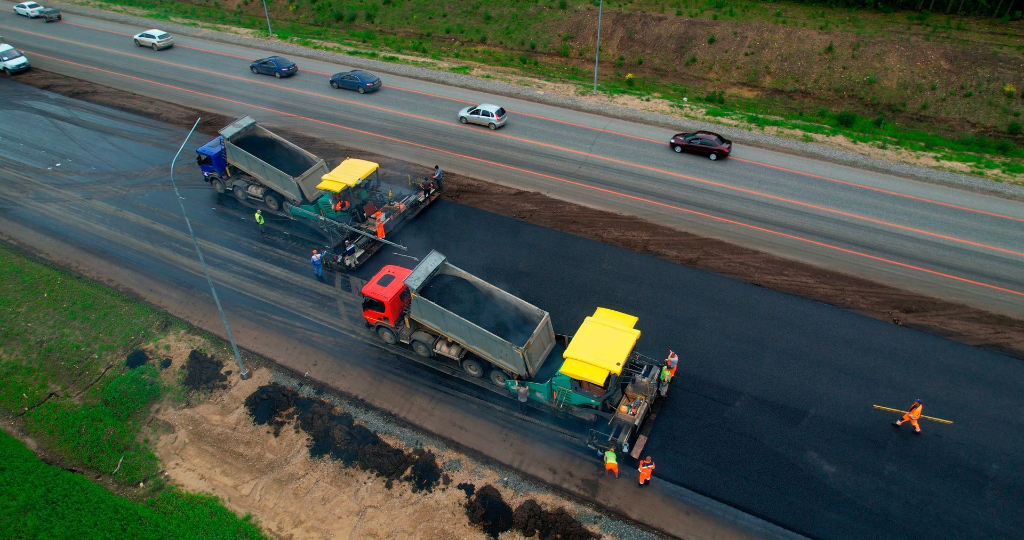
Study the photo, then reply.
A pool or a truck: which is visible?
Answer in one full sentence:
It is a truck that can be seen here.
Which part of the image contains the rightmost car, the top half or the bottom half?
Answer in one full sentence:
Seen from above, the rightmost car lies in the top half of the view.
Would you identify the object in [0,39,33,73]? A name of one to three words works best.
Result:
vehicle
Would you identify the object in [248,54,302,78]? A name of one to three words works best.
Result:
car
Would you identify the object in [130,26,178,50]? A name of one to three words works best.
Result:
car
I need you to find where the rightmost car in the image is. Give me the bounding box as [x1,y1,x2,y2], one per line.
[665,127,734,158]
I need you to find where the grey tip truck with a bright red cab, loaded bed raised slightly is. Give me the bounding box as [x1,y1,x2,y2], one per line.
[356,247,563,386]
